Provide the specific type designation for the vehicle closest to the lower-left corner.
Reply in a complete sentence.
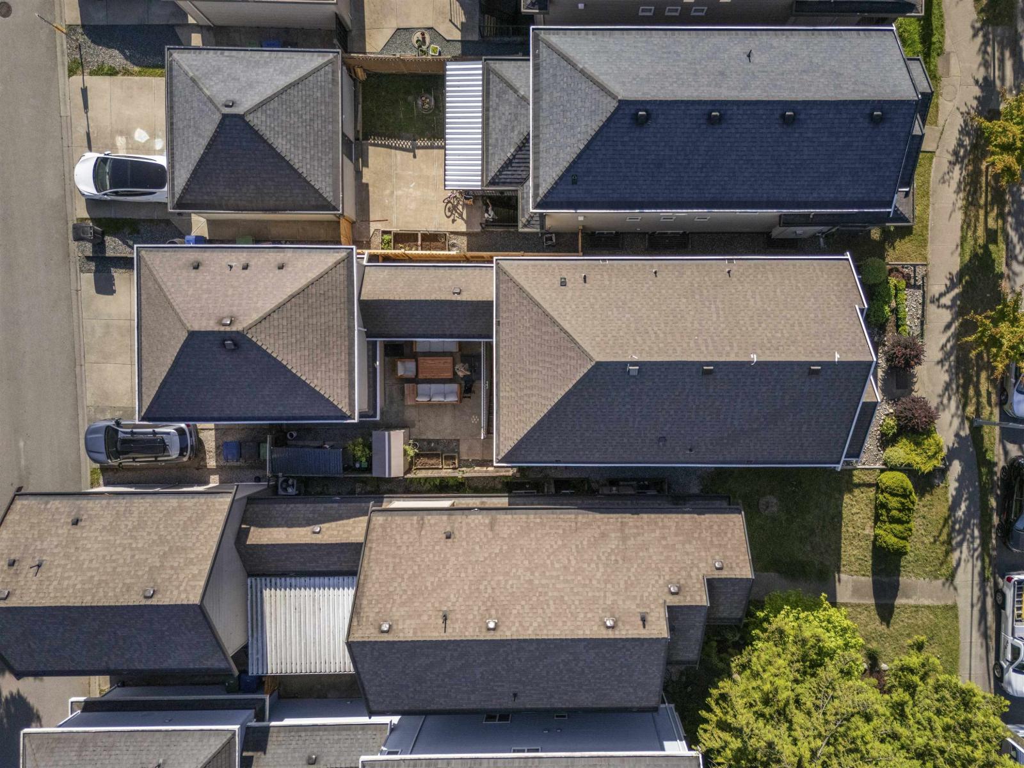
The vehicle closest to the lower-left corner in the image is a car.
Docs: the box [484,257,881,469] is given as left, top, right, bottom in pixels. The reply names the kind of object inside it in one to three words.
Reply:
house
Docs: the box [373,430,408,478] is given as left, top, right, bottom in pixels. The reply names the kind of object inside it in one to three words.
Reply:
shed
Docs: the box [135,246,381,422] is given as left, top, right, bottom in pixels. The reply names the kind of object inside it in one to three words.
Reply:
house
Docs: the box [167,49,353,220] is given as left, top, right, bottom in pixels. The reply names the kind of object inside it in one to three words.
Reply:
building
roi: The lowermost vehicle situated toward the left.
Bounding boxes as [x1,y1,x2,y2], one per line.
[84,415,202,470]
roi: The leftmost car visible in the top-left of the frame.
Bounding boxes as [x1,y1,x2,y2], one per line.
[75,148,169,203]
